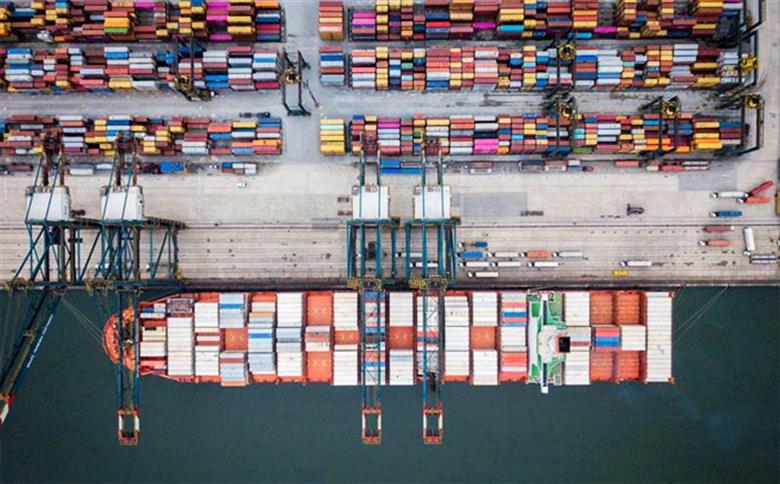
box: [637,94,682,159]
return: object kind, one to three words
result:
container crane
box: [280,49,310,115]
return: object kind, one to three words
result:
container crane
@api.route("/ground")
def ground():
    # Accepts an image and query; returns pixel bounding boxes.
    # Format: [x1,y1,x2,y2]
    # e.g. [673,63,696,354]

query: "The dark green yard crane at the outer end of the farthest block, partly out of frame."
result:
[714,0,766,40]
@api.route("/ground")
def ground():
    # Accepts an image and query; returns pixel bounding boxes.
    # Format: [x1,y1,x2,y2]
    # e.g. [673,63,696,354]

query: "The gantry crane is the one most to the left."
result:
[0,131,133,444]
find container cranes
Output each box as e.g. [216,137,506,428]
[280,49,310,115]
[542,95,577,160]
[710,29,762,97]
[401,131,460,445]
[711,93,763,160]
[0,131,133,444]
[174,36,213,105]
[347,131,401,445]
[637,94,682,159]
[75,131,197,445]
[542,34,577,104]
[714,0,766,40]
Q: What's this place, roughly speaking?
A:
port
